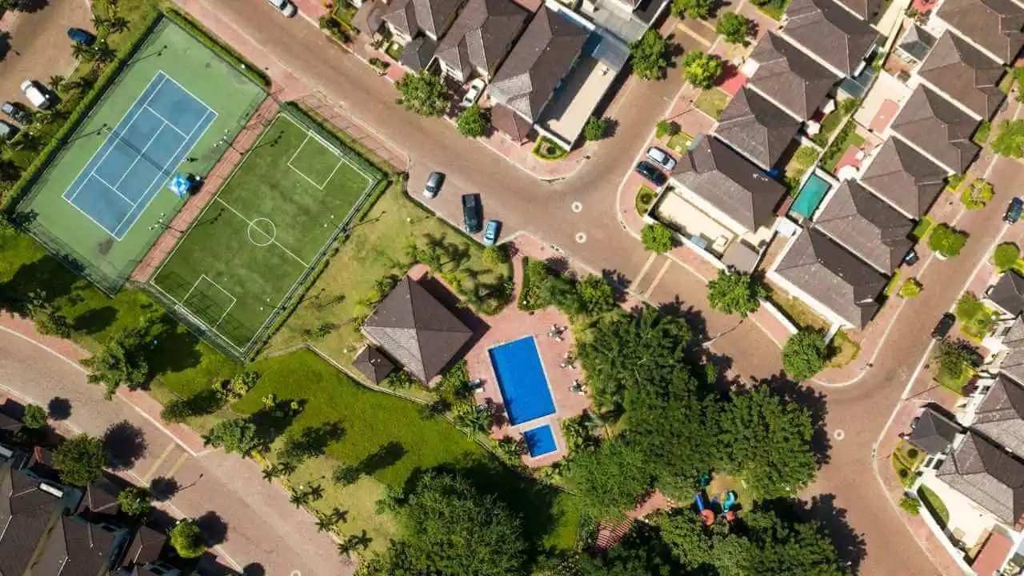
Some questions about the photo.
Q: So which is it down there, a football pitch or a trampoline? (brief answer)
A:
football pitch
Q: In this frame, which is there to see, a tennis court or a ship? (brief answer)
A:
tennis court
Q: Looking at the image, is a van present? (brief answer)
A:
Yes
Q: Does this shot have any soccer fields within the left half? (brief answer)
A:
Yes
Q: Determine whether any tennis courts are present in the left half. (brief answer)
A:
Yes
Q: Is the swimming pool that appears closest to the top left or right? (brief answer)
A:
right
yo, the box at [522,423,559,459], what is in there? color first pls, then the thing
blue swimming pool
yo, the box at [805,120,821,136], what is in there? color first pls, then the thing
white umbrella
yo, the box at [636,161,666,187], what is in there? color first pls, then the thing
black car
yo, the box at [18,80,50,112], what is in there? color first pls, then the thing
white van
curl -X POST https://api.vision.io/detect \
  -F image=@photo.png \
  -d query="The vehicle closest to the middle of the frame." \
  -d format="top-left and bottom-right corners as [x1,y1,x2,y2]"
[483,219,499,246]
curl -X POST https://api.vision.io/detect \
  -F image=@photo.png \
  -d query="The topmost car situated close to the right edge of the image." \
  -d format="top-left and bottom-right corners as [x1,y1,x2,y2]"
[1001,195,1024,226]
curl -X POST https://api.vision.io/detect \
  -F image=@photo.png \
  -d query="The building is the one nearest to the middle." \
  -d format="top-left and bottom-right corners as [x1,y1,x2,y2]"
[360,276,472,384]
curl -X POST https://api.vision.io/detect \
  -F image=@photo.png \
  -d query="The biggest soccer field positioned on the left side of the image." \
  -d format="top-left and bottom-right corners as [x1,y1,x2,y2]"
[144,106,384,356]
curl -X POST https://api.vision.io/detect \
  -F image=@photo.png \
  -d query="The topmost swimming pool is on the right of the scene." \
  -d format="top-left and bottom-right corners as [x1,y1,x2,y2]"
[790,172,833,219]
